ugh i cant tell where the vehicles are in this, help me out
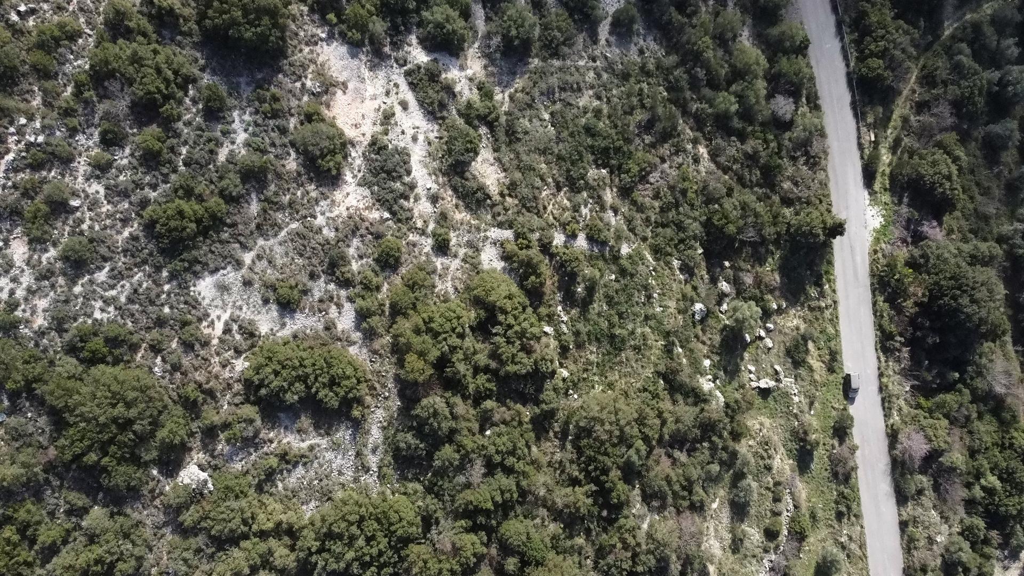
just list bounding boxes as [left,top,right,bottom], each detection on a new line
[846,372,861,399]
